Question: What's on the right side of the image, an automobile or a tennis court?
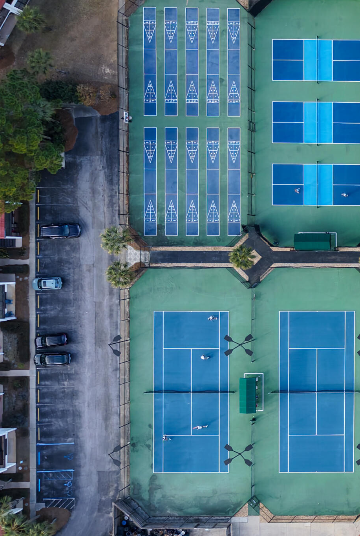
tennis court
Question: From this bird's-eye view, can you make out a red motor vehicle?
No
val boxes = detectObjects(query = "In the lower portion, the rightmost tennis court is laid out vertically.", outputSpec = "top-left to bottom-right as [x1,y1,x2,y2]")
[254,268,360,515]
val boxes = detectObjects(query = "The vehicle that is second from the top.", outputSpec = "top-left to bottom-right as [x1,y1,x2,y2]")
[32,276,64,291]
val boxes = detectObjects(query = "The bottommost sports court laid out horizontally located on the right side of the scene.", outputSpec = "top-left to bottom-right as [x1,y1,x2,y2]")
[271,163,360,206]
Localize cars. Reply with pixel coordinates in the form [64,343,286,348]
[35,331,71,349]
[35,351,74,367]
[41,222,83,238]
[32,276,64,291]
